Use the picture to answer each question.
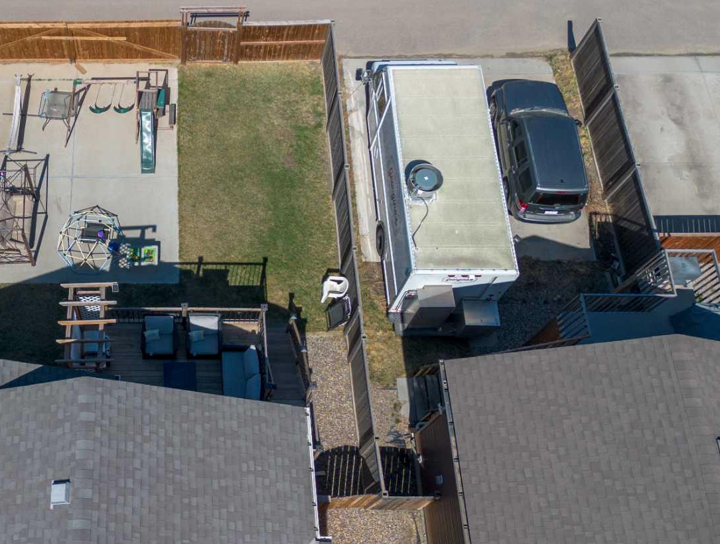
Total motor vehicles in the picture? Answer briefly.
2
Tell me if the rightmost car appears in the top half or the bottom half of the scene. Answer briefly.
top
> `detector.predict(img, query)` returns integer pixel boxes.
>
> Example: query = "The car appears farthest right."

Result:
[489,89,589,224]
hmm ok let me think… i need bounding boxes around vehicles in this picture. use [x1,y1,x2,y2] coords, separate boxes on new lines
[358,58,521,335]
[489,89,589,224]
